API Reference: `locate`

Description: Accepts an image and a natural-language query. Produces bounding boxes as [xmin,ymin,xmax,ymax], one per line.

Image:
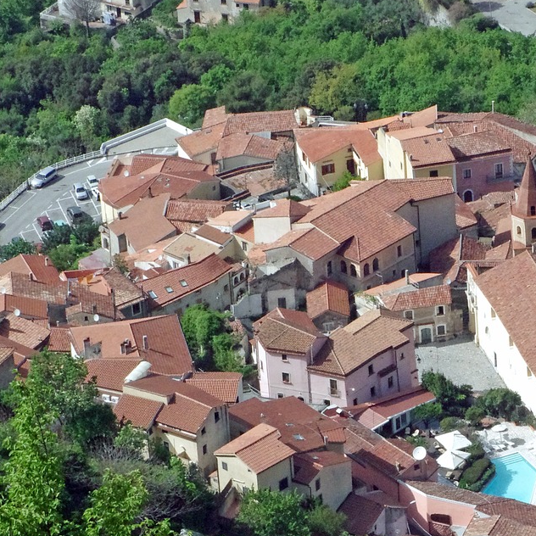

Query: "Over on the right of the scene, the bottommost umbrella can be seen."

[433,450,472,480]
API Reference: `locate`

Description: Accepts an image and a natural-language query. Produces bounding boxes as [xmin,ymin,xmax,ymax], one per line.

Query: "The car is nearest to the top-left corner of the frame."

[28,164,61,187]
